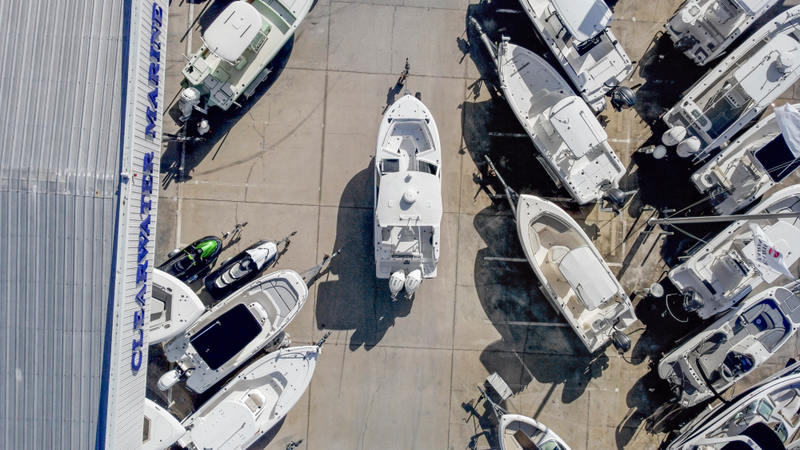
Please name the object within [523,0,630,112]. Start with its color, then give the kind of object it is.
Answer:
white boat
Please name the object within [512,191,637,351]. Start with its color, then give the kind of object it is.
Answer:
white boat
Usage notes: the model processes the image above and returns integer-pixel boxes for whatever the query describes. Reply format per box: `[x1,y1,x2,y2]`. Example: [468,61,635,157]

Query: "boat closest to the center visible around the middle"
[374,91,441,305]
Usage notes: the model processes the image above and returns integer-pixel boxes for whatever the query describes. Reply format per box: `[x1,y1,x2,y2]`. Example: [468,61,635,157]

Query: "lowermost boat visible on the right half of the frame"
[499,410,570,450]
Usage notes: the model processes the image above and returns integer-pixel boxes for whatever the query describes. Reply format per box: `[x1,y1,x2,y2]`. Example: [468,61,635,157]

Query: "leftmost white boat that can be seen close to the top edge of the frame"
[177,0,312,112]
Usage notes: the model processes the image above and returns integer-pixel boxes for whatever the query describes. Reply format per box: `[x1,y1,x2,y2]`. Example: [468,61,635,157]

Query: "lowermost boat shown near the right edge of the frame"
[648,359,800,450]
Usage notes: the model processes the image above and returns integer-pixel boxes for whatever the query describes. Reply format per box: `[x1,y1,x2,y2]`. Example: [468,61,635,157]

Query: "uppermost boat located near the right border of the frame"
[662,0,780,68]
